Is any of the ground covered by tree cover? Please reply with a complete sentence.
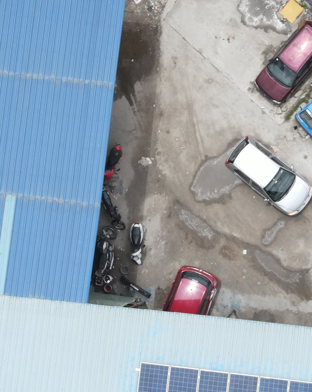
No, the scene doesn't show any tree cover.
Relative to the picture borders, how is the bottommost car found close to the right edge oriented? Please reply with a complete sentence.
From this overhead view, the bottommost car found close to the right edge appears to run diagonally.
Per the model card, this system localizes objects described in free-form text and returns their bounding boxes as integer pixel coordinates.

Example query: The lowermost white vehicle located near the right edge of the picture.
[225,136,310,213]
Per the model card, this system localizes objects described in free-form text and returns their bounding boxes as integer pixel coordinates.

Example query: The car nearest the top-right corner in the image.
[256,18,312,104]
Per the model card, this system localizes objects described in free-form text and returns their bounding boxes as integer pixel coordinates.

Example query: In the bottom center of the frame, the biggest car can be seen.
[161,261,216,314]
